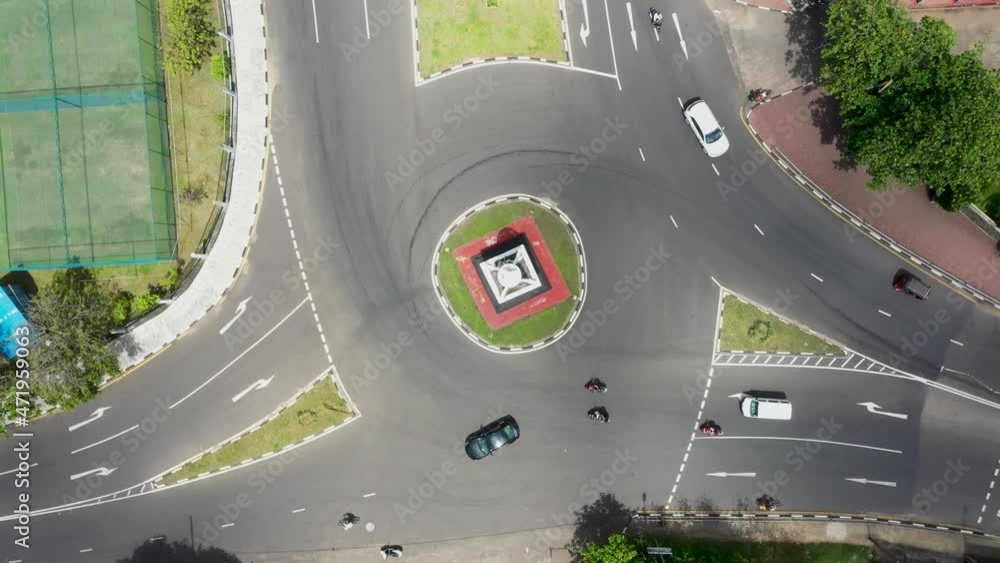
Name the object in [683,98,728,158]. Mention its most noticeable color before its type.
white car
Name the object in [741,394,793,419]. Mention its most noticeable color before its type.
white vehicle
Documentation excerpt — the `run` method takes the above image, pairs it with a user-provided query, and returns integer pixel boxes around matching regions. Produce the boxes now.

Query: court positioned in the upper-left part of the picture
[0,0,177,261]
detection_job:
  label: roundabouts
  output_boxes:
[432,193,588,354]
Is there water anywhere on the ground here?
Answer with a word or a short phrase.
No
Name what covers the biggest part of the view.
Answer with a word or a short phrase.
paved ground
